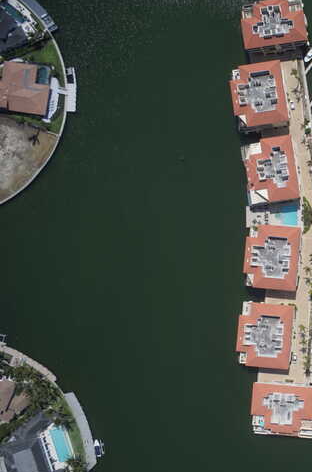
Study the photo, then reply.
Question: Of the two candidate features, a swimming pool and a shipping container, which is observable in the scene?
swimming pool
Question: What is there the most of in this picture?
water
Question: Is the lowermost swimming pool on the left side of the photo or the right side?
left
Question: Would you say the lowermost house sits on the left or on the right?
left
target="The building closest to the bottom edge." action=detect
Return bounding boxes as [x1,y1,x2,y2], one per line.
[0,414,57,472]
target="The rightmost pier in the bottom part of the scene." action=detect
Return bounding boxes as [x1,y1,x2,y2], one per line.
[65,391,97,470]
